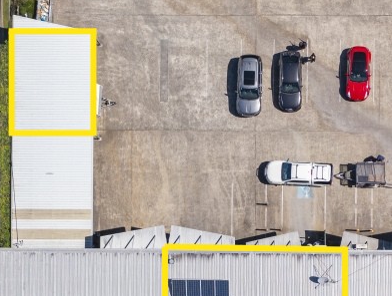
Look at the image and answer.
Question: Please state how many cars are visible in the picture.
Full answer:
The picture shows 4 cars.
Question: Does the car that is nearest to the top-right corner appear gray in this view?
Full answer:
No, the car that is nearest to the top-right corner is red.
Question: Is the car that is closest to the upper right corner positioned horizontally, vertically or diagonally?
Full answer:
The car that is closest to the upper right corner is laid out vertically.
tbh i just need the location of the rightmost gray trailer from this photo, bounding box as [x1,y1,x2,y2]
[332,159,385,188]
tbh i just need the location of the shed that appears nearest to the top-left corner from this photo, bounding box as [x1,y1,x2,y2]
[12,15,94,248]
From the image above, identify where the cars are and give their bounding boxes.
[264,158,333,186]
[276,48,305,111]
[345,43,374,101]
[233,53,263,116]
